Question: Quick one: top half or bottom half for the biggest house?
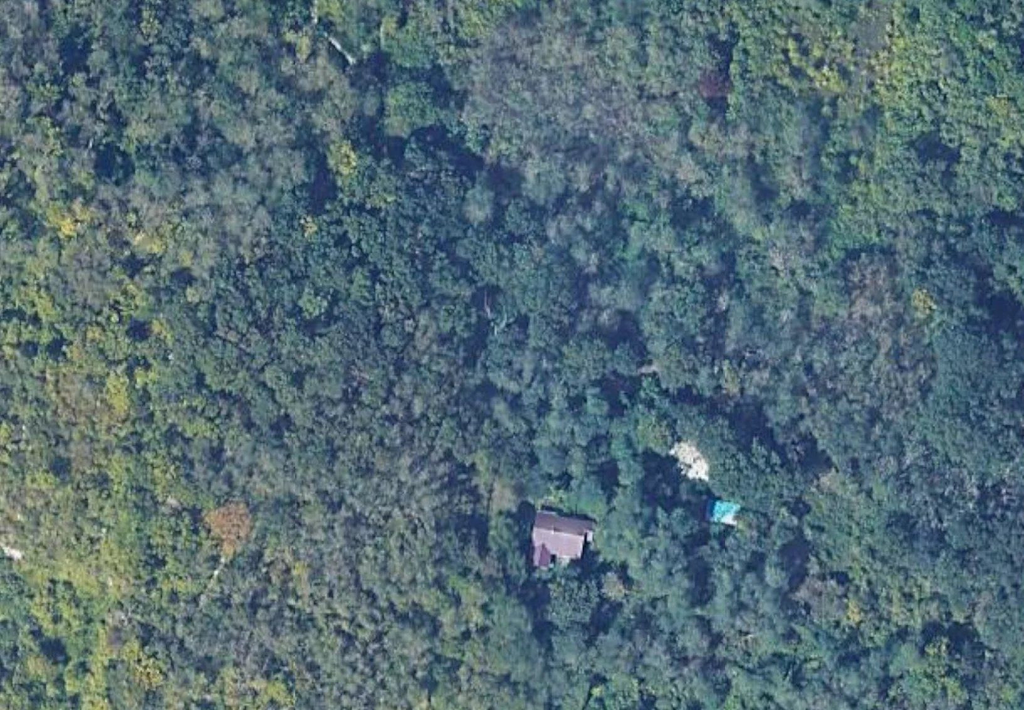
bottom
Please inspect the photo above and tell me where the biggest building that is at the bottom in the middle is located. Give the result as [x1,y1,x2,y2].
[530,511,597,569]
